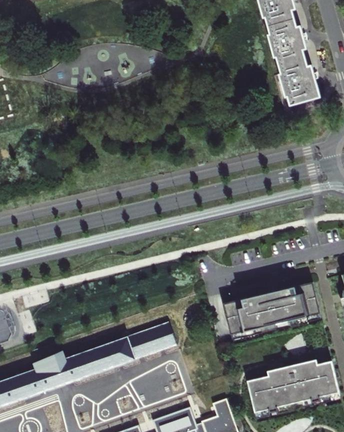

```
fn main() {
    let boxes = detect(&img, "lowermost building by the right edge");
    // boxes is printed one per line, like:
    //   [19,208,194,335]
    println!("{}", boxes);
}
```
[248,359,340,418]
